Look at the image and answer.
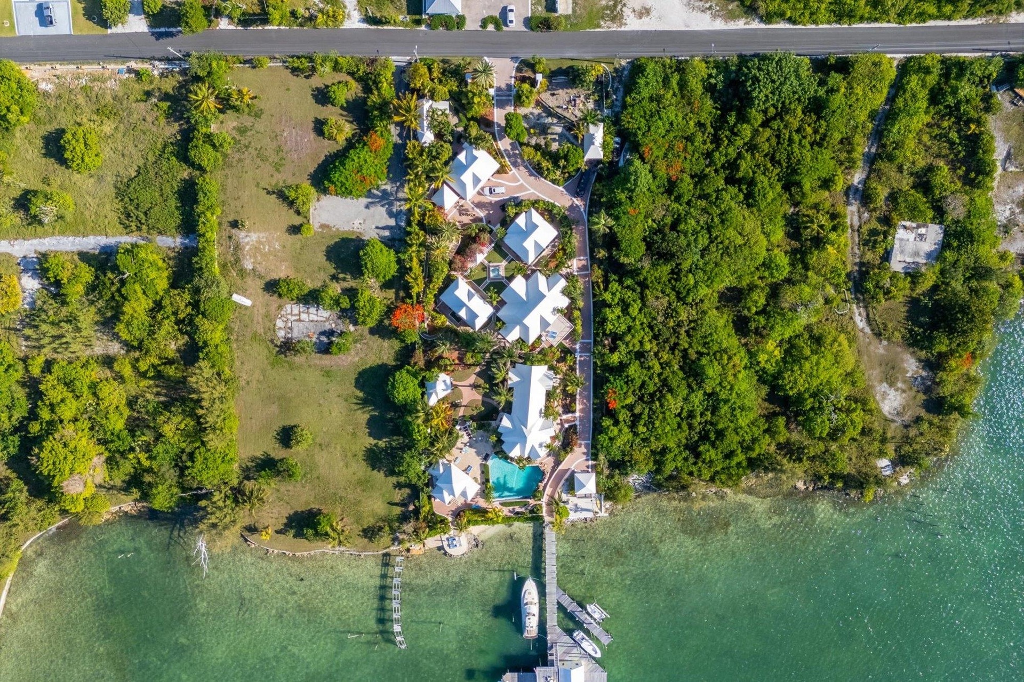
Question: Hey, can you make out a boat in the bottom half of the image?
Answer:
Yes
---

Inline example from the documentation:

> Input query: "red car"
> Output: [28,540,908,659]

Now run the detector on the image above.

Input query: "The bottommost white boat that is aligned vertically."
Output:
[522,578,539,638]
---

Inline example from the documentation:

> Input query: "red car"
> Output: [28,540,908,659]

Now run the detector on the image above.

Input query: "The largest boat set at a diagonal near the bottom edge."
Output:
[574,632,601,659]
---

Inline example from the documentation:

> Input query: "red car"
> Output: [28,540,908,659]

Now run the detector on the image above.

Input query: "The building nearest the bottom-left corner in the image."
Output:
[431,460,480,506]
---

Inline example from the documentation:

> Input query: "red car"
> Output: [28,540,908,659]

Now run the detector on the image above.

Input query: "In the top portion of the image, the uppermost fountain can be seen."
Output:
[487,263,505,281]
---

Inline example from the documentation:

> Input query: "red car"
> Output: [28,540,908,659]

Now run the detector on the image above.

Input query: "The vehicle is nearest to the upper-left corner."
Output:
[43,2,58,27]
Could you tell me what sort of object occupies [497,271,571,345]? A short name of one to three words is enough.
house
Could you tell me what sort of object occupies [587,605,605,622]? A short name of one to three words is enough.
boat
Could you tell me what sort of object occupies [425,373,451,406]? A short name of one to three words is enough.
building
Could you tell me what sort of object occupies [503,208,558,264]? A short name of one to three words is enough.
house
